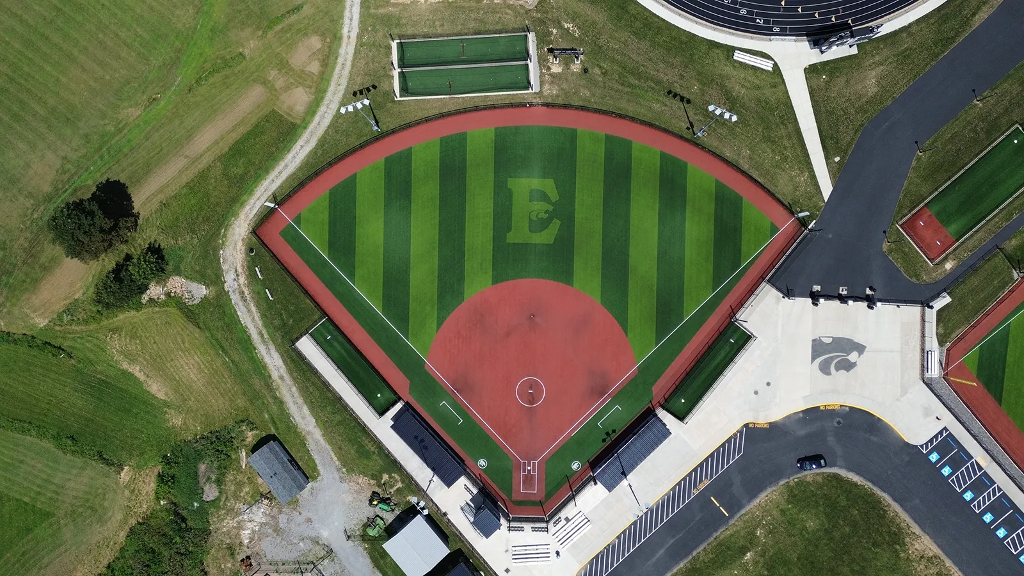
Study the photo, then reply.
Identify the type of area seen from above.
sports ground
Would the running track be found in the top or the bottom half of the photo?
top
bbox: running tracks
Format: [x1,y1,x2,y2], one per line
[658,0,924,40]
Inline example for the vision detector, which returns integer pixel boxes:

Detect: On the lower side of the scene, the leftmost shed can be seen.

[248,440,309,504]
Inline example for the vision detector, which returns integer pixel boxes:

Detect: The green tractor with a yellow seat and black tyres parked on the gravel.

[368,495,396,515]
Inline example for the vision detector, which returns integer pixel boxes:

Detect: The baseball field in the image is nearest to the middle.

[255,106,804,516]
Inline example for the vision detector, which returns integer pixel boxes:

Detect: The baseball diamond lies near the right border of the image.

[943,279,1024,469]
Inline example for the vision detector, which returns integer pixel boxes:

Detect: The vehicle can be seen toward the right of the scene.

[798,456,826,471]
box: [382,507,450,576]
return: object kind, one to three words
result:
building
